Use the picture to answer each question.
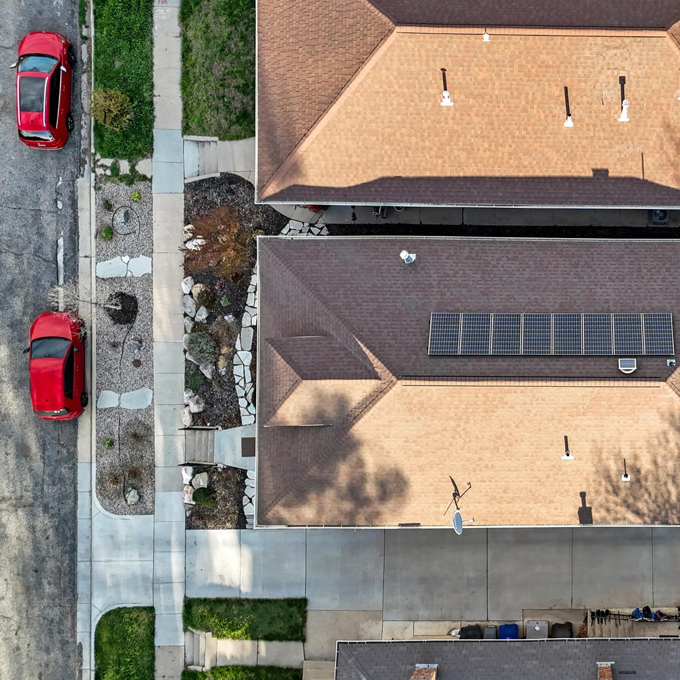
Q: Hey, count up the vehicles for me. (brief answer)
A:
2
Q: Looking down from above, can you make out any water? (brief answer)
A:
No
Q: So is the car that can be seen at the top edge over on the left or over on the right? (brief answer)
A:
left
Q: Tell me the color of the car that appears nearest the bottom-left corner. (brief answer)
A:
red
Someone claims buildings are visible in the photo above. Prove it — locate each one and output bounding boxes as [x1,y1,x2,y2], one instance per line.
[256,0,680,208]
[297,632,680,680]
[256,236,680,529]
